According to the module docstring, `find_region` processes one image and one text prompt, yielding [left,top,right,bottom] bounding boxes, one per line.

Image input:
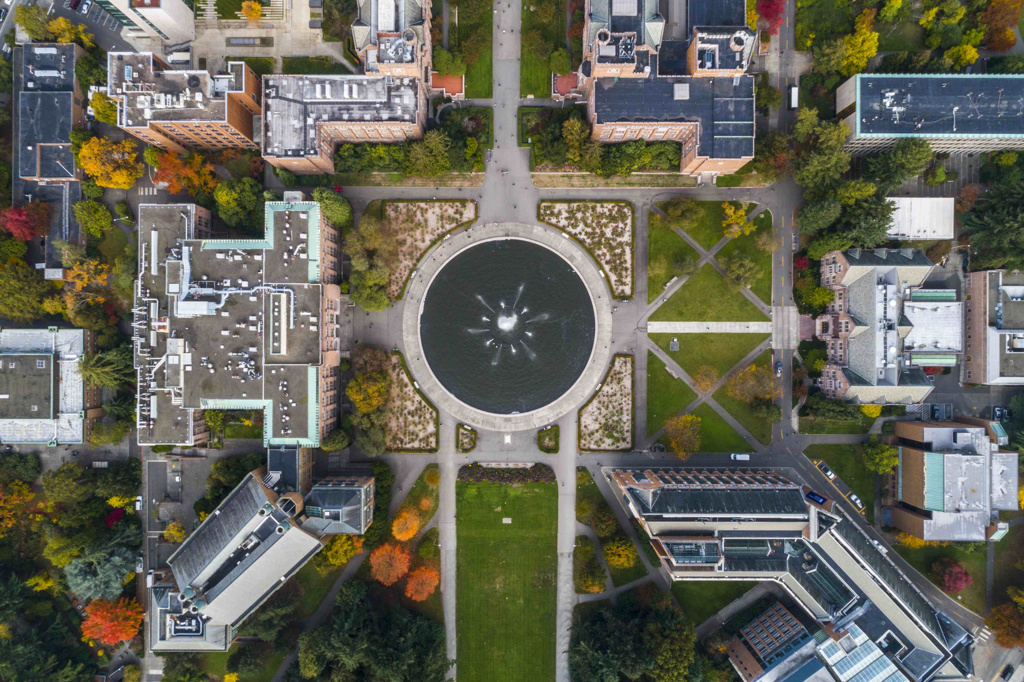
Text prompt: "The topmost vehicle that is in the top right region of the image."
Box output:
[789,82,803,110]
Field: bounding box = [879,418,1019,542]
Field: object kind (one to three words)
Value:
building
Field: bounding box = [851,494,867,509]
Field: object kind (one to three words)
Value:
vehicle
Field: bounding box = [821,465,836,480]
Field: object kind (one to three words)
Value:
vehicle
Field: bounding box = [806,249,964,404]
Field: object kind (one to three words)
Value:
building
